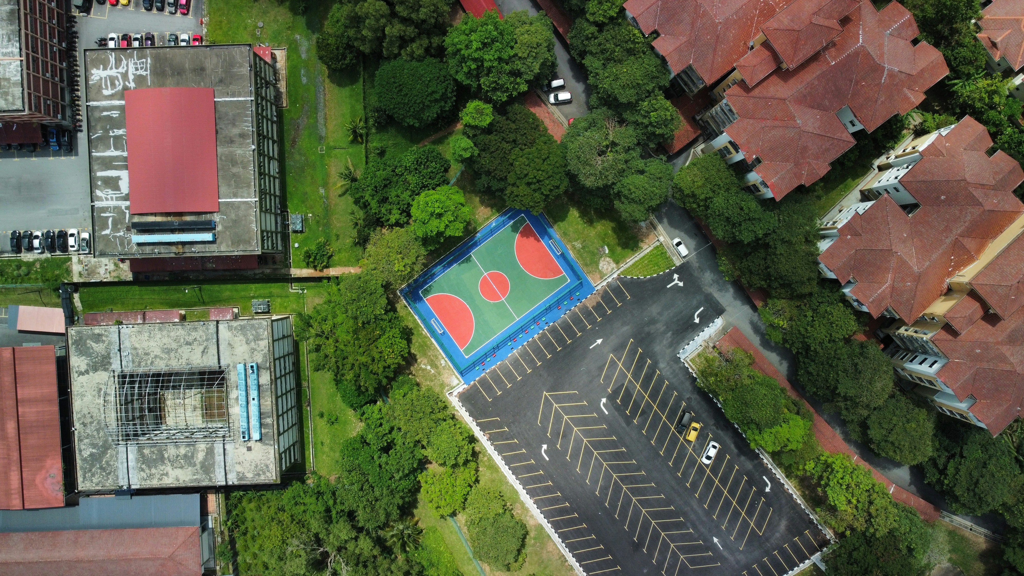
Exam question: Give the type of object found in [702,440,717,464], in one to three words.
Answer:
car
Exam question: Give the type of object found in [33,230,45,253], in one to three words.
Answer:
vehicle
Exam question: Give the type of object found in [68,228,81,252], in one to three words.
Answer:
vehicle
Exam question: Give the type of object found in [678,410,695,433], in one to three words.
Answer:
car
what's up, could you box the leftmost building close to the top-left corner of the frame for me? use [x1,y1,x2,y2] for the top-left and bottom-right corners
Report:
[0,0,70,129]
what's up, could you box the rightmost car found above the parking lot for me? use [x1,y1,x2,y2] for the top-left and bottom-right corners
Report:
[672,236,689,258]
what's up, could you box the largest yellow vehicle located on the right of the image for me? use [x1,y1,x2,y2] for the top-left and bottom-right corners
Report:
[686,421,700,442]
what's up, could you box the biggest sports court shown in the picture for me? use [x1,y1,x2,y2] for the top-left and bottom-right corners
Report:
[401,201,594,383]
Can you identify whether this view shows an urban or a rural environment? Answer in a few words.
urban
